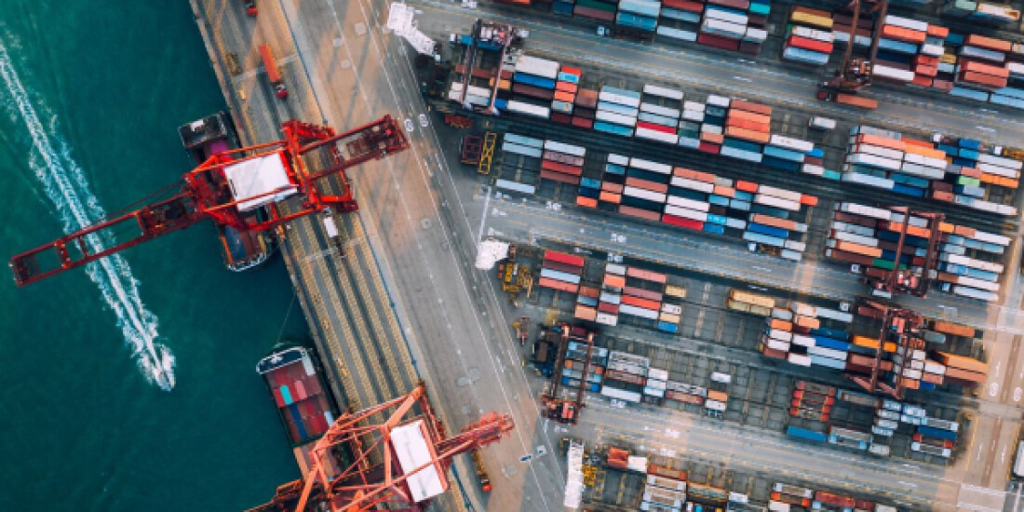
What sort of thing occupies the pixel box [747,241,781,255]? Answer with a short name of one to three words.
vehicle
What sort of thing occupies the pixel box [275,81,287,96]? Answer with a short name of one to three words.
vehicle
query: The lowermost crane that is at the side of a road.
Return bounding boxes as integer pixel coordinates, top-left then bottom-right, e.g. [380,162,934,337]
[259,379,521,512]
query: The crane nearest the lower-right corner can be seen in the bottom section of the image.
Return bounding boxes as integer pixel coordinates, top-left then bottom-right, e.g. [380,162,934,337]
[838,297,920,399]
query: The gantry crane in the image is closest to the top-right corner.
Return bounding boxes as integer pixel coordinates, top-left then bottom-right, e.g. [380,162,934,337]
[811,0,893,95]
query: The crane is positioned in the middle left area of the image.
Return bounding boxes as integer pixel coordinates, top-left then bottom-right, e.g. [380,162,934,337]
[10,115,406,296]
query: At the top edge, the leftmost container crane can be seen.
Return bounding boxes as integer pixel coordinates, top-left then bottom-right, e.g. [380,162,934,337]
[459,16,519,117]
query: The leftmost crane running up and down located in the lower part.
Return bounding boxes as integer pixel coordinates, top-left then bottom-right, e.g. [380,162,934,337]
[539,315,596,419]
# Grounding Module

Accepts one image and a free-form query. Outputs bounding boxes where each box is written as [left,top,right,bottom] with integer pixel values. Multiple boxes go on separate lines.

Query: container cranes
[860,201,945,299]
[259,379,521,512]
[811,0,893,95]
[838,297,920,399]
[539,315,596,419]
[10,115,406,296]
[459,16,519,117]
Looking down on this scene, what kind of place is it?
port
